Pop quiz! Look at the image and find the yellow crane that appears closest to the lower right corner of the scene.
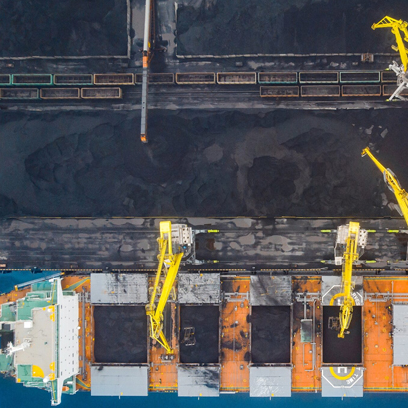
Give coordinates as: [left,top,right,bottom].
[320,221,377,337]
